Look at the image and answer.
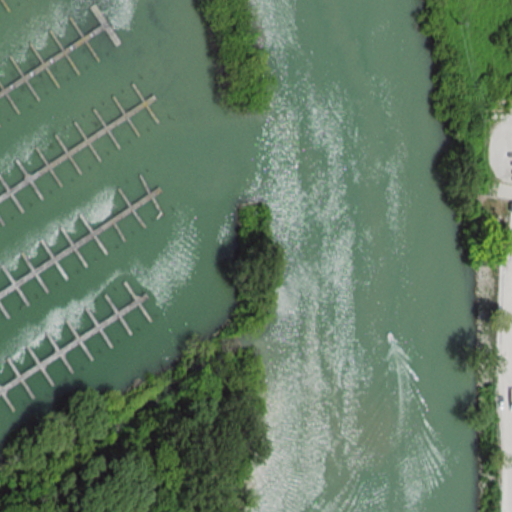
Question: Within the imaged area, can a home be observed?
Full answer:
No, the photo shows no home.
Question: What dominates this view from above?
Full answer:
What you mostly see from above here is water.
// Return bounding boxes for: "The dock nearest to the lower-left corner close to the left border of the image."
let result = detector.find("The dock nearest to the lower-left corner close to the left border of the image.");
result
[0,282,152,412]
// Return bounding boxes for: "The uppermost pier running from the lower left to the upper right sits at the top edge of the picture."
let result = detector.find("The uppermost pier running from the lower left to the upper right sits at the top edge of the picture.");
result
[0,6,121,114]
